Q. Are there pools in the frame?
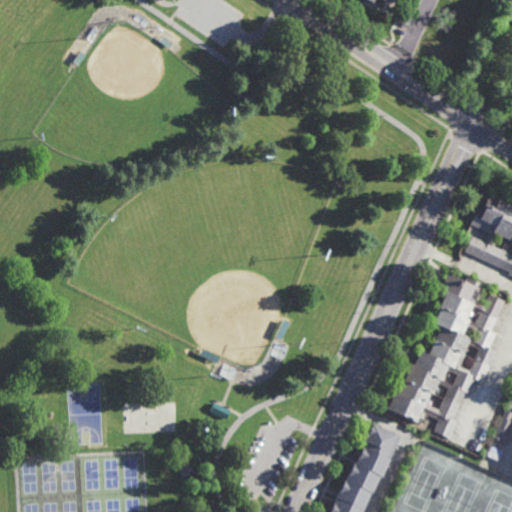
No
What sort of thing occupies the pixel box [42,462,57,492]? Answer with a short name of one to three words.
sports court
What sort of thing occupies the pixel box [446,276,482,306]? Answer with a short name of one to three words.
house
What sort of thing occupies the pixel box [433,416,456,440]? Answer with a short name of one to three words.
building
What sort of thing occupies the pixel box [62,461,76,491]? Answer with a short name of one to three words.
sports court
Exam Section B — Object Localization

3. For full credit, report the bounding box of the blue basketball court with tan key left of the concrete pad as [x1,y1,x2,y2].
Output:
[68,384,102,447]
